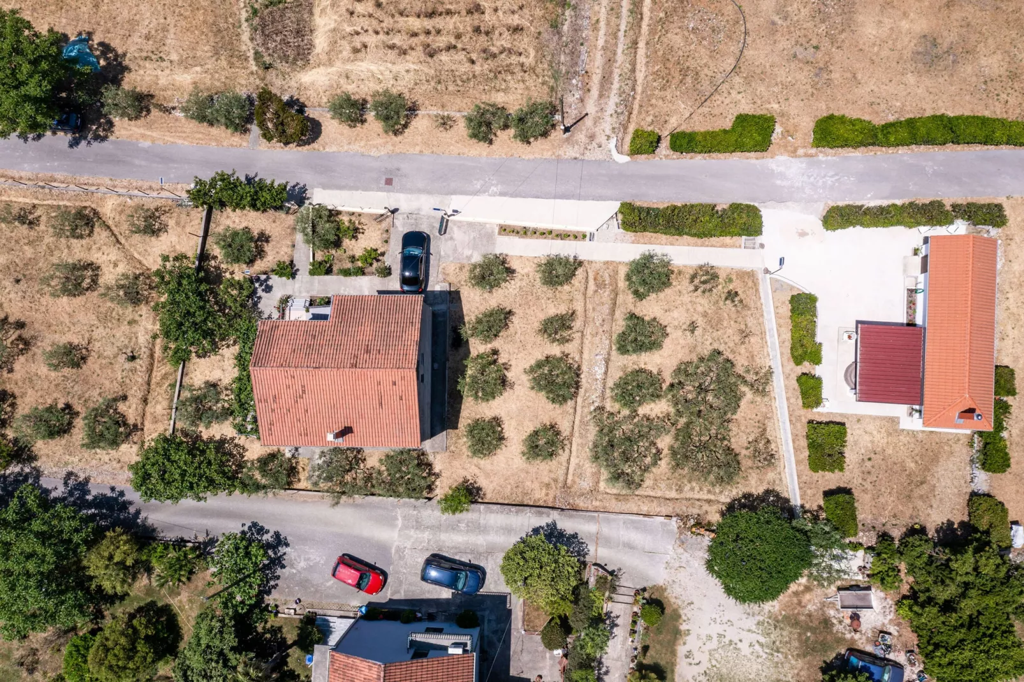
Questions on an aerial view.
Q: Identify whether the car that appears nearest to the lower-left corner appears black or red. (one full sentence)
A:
The color of the car that appears nearest to the lower-left corner is red.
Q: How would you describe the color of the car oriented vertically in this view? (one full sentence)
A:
In this view, the car oriented vertically is black.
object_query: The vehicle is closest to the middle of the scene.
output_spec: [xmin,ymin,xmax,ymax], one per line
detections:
[399,231,430,294]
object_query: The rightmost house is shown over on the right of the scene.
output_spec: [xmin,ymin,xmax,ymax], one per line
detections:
[898,233,998,432]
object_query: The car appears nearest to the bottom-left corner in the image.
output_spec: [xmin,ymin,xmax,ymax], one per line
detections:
[331,554,386,592]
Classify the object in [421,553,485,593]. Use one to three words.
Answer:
car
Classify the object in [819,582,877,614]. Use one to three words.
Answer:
trailer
